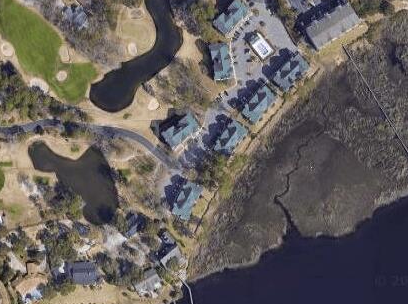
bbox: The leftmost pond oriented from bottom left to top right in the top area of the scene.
[90,0,182,112]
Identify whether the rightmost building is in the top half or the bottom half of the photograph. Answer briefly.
top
